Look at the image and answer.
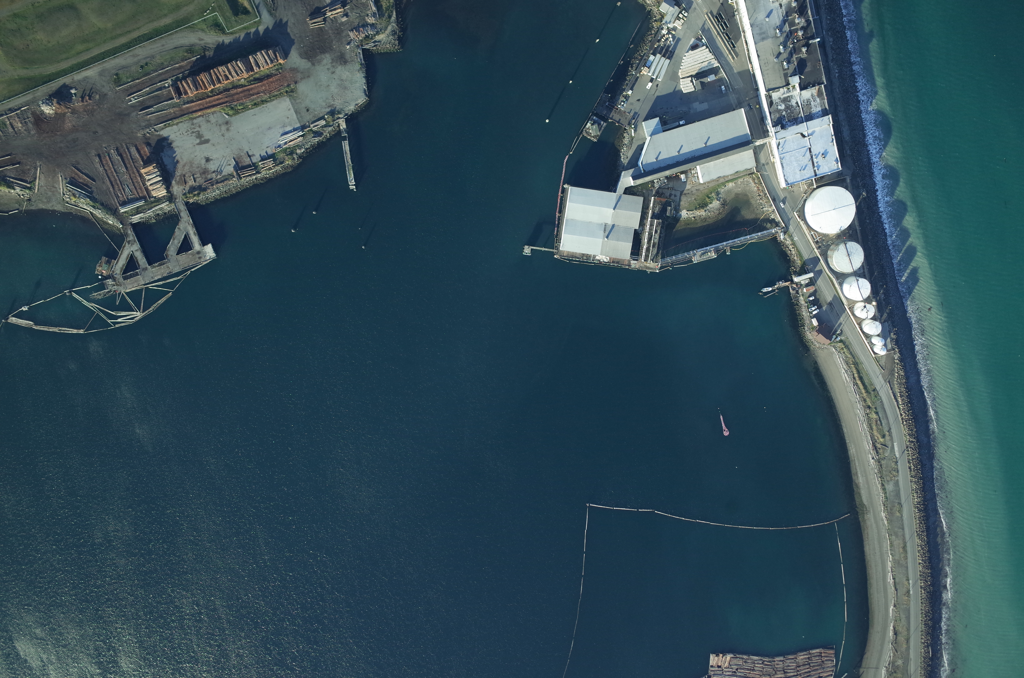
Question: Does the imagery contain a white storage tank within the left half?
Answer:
No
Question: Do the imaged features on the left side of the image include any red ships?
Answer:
No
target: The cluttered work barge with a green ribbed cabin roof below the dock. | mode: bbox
[582,116,607,141]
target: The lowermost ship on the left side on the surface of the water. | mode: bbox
[95,256,115,276]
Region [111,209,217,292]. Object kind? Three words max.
pier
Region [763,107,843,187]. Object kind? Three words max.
building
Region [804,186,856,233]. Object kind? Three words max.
storage tank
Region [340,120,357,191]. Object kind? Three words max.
pier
